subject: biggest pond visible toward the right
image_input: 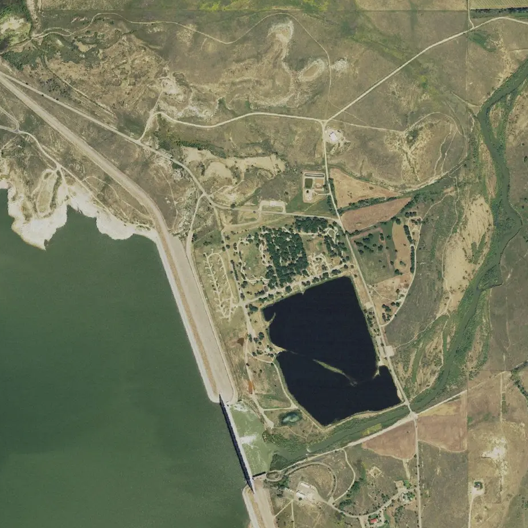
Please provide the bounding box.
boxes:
[262,277,399,426]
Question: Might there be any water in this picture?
Yes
